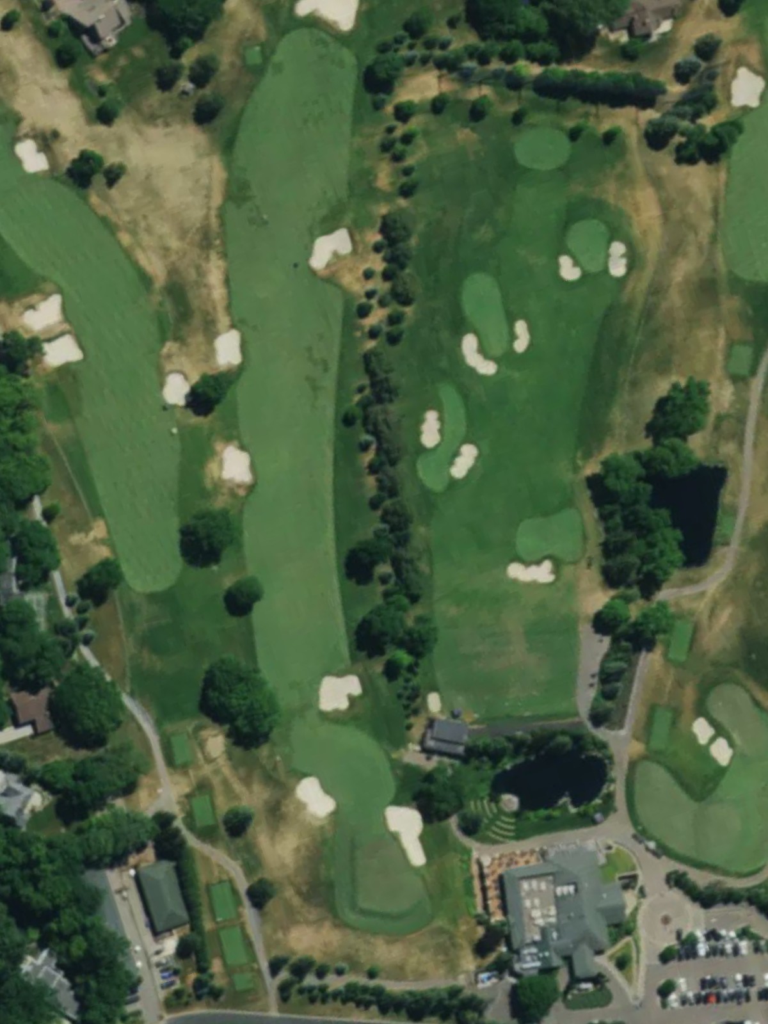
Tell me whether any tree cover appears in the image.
Yes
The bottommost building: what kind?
home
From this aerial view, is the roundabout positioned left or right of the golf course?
right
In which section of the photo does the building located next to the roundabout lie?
bottom right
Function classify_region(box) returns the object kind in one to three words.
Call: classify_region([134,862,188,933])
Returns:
barn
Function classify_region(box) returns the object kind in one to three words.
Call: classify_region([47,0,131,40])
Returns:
house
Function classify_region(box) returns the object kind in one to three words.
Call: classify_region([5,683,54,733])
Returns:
house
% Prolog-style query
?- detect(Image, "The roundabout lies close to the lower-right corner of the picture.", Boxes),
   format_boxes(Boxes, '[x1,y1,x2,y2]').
[636,884,696,946]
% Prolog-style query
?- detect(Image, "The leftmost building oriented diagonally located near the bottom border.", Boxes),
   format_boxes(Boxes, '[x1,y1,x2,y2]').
[19,949,78,1018]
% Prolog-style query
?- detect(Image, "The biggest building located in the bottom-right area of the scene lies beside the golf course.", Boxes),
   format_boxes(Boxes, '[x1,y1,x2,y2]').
[498,848,626,978]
